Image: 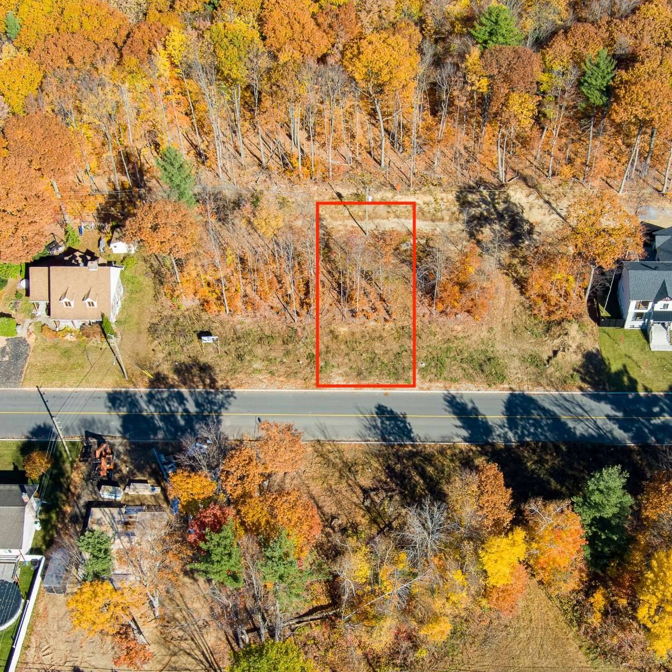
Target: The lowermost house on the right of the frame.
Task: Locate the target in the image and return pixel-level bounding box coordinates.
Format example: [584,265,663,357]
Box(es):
[616,261,672,352]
